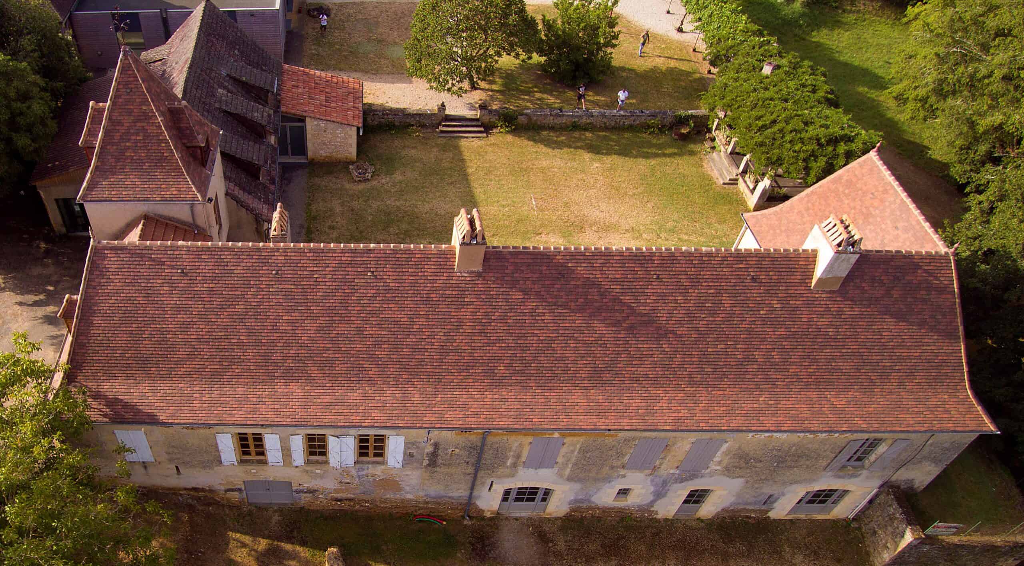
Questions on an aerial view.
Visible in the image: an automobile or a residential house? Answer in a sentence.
I can see a residential house in this picture.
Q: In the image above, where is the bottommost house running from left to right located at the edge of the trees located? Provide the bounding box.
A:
[30,139,1004,523]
